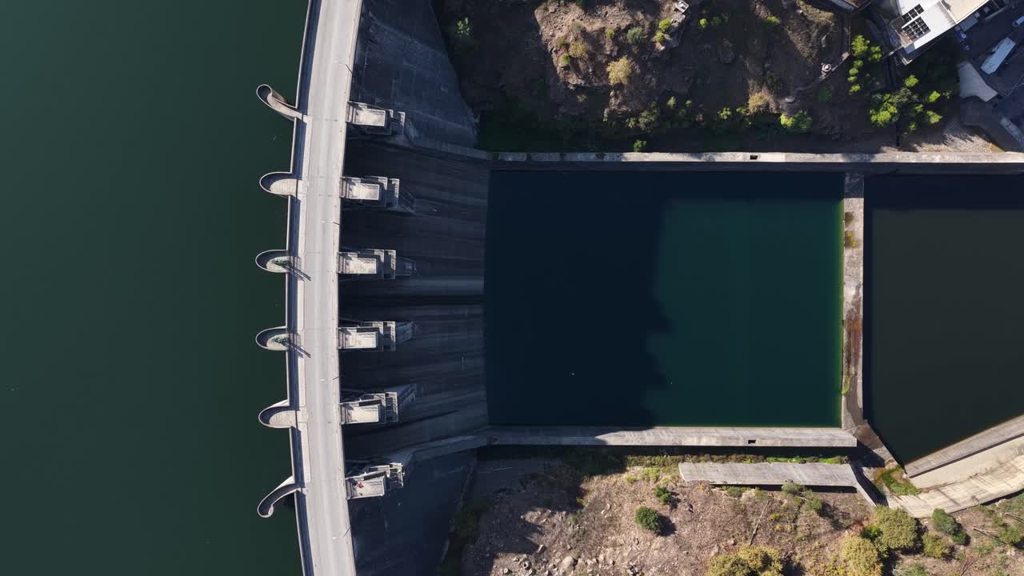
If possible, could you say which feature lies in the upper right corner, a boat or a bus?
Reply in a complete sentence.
Visible in the upper right corner is a bus.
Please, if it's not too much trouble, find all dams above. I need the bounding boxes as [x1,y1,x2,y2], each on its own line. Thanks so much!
[256,0,500,576]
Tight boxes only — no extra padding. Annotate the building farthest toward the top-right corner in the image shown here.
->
[878,0,990,67]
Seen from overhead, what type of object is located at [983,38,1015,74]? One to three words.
bus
